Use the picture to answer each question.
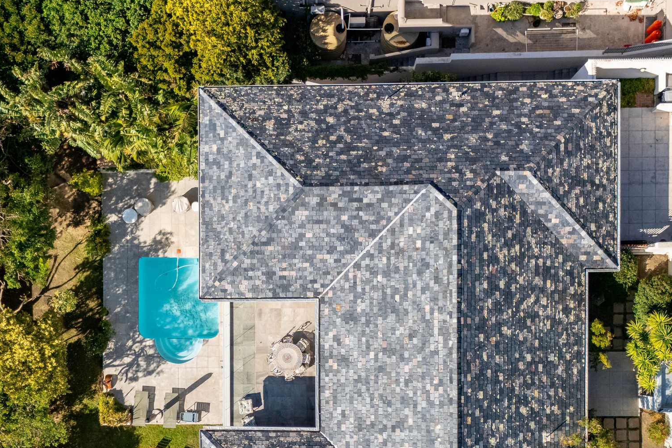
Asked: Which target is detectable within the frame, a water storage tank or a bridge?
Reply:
water storage tank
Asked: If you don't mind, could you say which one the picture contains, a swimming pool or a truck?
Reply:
swimming pool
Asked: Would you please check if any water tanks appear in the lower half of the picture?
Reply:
No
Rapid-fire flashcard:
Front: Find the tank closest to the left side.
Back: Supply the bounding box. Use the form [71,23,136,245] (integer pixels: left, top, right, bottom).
[310,13,345,59]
